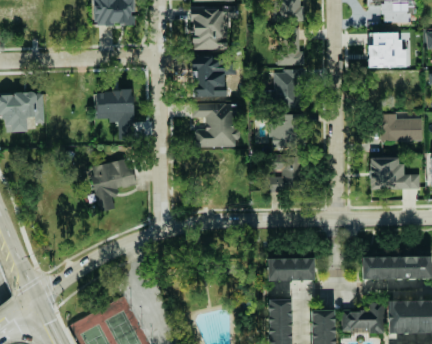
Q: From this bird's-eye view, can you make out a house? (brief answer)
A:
Yes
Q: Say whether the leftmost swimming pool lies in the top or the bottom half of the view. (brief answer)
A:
bottom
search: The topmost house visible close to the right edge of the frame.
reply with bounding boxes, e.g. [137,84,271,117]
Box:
[382,0,415,23]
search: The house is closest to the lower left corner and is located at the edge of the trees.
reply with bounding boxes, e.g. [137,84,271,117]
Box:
[90,161,136,212]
